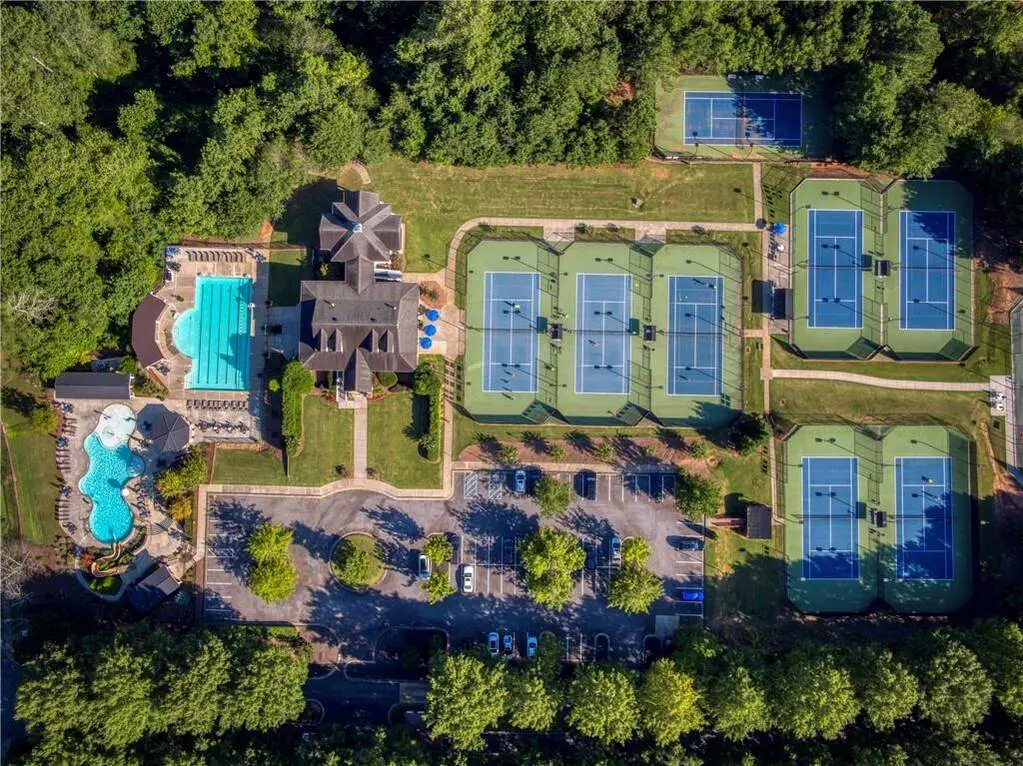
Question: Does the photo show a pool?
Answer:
Yes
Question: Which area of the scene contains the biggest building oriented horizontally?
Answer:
left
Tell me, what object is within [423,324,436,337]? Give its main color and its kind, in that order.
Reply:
blue umbrella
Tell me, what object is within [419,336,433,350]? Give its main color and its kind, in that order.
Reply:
blue umbrella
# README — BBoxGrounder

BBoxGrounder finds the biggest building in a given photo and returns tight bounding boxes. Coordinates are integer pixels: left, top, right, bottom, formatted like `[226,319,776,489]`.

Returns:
[300,191,419,392]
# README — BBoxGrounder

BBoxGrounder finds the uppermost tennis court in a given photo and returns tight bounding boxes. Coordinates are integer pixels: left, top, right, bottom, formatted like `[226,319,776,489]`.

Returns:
[654,76,834,160]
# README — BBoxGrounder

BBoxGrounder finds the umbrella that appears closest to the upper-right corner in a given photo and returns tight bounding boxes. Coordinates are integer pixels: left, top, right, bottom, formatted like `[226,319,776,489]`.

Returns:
[772,222,786,236]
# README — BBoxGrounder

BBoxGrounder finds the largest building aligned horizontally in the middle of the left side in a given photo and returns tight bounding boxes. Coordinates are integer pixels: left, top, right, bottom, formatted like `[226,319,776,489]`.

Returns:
[50,374,135,399]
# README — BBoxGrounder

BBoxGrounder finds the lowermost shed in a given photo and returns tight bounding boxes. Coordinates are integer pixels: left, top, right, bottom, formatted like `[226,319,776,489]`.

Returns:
[126,565,186,613]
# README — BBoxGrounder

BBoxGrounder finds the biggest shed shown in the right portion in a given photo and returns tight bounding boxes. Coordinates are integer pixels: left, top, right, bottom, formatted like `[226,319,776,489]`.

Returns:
[744,506,771,539]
